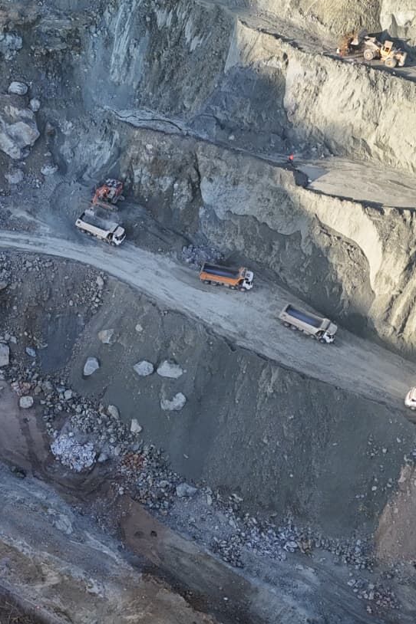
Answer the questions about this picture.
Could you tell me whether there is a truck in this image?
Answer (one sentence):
Yes, a truck is visible in the scene.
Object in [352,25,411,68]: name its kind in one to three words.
work vehicle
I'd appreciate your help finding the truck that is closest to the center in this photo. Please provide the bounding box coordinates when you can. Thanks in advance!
[200,260,259,291]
